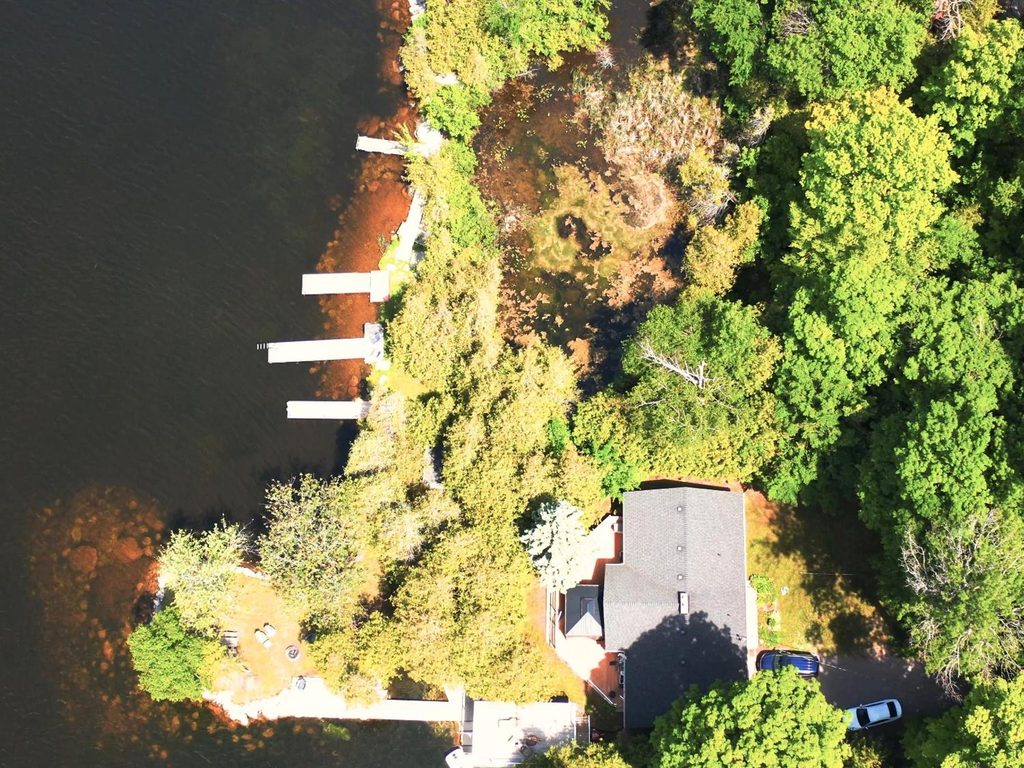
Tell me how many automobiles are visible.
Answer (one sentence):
The picture shows 2 automobiles.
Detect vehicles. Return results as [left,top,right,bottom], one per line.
[840,695,907,734]
[755,648,821,678]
